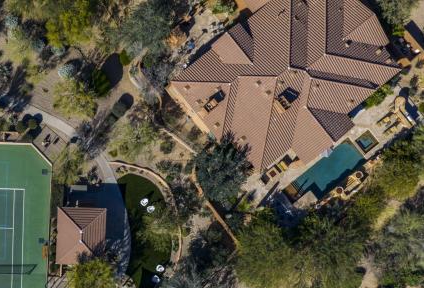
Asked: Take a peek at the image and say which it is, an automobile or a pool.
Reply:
pool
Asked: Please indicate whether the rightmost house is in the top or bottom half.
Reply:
top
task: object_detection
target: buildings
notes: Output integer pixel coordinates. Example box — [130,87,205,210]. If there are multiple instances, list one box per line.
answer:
[55,207,107,264]
[167,0,403,173]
